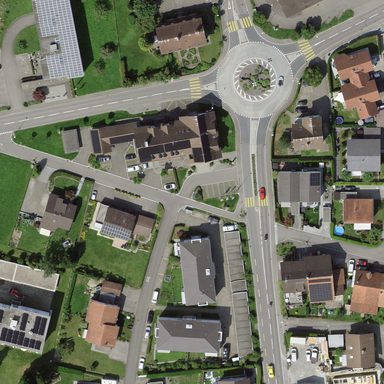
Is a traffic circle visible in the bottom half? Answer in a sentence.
No, no traffic circle appears in the bottom half.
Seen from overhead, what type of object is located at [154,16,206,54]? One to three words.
house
